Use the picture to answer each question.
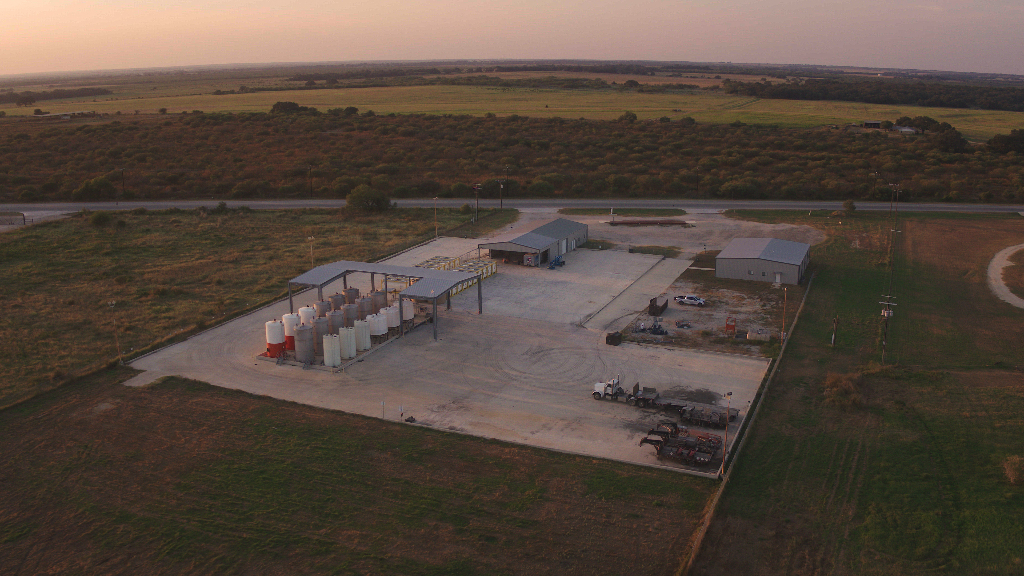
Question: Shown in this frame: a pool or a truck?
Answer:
truck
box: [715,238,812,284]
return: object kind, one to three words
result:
building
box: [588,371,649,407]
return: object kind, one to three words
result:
truck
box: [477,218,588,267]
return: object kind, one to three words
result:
building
